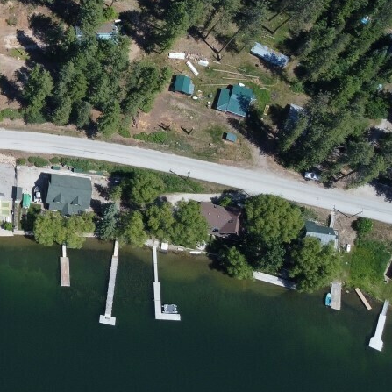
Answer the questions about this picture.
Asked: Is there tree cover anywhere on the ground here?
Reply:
Yes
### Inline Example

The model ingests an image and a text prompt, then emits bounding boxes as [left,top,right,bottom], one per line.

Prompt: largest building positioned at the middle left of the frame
[47,175,94,216]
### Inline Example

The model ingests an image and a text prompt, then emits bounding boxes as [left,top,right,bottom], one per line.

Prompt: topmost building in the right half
[248,42,289,72]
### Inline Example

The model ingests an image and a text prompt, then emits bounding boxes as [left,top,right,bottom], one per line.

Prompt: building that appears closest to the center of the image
[201,204,239,236]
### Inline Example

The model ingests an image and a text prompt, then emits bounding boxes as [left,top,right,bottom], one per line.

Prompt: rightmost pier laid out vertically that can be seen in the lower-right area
[369,300,388,354]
